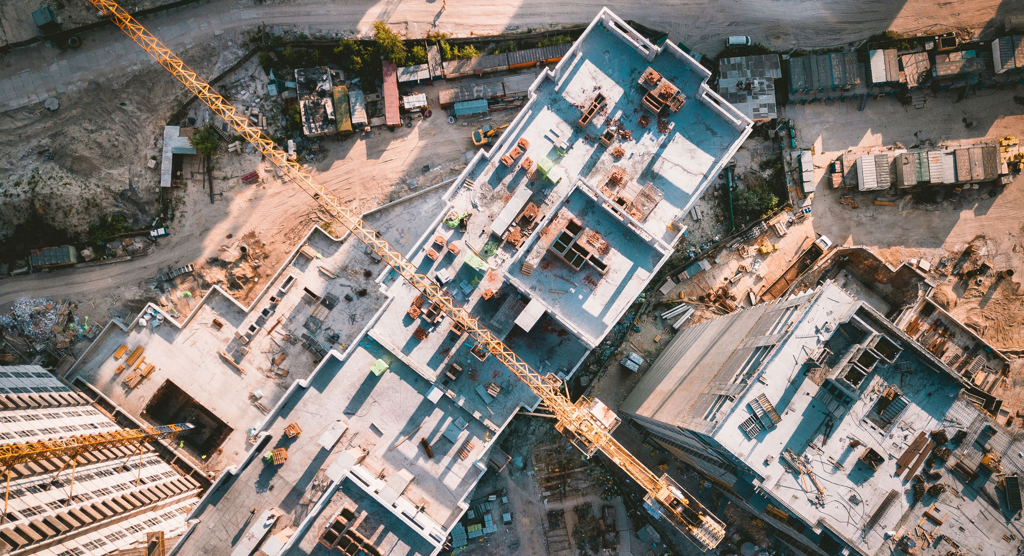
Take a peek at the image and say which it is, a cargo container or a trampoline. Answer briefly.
cargo container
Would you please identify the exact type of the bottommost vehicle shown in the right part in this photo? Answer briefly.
truck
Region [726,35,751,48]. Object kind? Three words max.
vehicle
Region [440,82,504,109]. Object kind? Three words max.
building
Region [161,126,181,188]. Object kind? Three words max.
shed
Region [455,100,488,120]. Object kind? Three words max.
shed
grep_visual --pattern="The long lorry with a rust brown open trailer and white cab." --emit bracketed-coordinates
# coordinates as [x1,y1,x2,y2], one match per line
[757,233,837,301]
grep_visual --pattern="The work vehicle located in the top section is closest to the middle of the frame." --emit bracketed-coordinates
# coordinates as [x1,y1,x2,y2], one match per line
[468,125,508,149]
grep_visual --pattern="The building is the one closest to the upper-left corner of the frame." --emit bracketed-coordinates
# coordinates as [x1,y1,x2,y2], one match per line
[32,7,60,29]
